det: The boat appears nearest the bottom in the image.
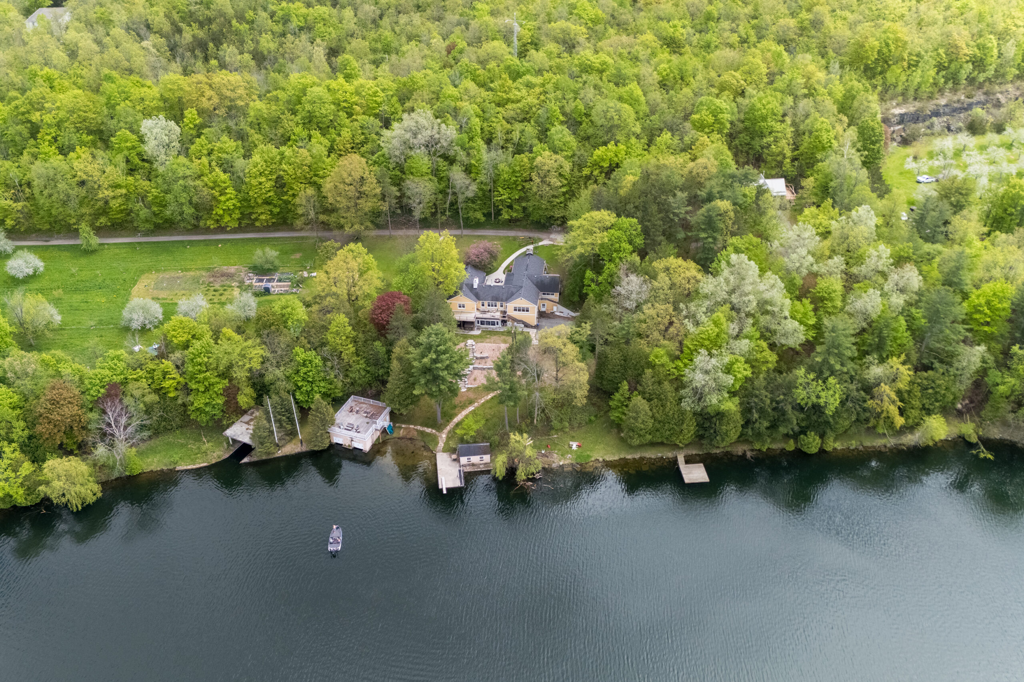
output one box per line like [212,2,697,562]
[327,524,341,560]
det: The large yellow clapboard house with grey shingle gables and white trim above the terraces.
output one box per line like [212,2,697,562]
[444,253,562,330]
